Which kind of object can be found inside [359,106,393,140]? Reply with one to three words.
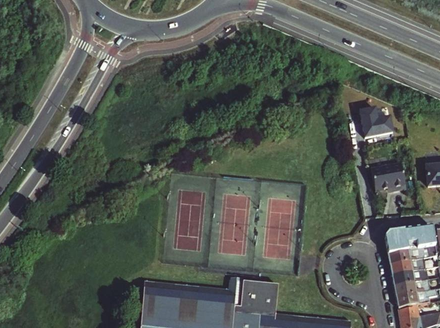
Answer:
house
